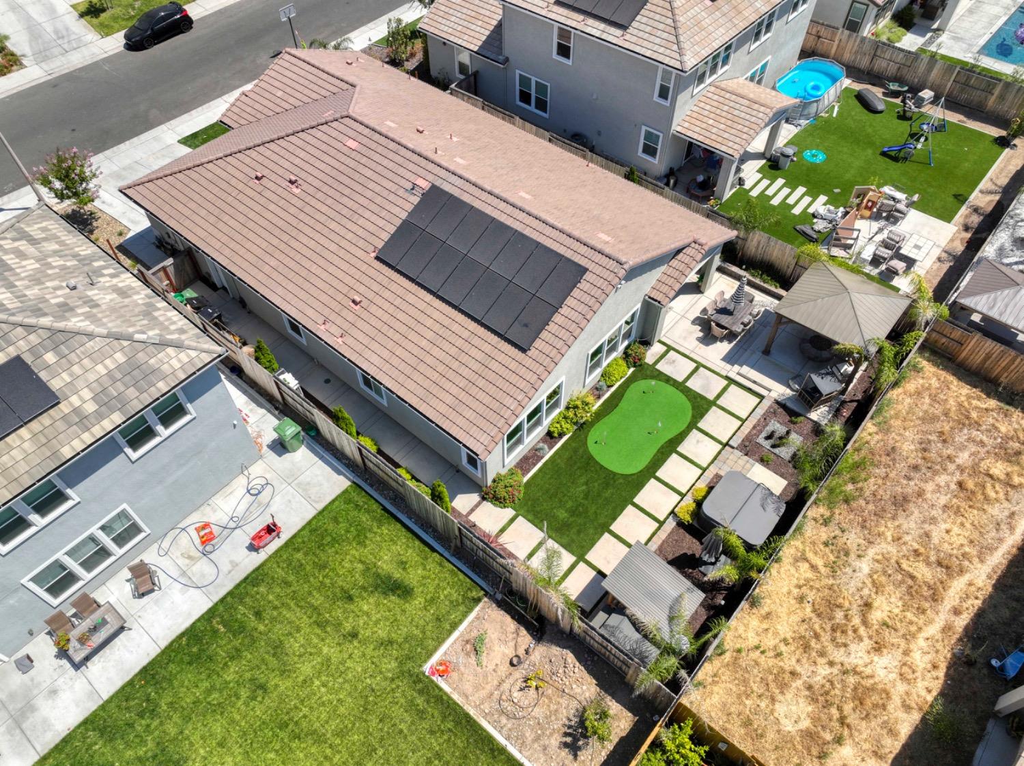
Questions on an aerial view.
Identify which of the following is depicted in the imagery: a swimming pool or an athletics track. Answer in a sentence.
The one in the frame is a swimming pool.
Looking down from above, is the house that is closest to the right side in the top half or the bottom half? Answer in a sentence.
The bottom half of the photo is where the house that is closest to the right side is.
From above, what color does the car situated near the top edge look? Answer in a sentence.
The color of the car situated near the top edge is black.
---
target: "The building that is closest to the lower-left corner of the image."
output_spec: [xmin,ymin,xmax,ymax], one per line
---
[0,198,256,665]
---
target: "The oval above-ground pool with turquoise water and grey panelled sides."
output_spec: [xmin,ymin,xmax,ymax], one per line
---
[770,54,848,120]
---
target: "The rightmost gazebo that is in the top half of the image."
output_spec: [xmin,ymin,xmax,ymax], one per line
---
[949,254,1024,332]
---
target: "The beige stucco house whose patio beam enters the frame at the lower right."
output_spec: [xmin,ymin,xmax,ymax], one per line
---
[993,692,1024,726]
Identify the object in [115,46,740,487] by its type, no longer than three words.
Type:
house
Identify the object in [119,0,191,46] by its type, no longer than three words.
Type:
car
